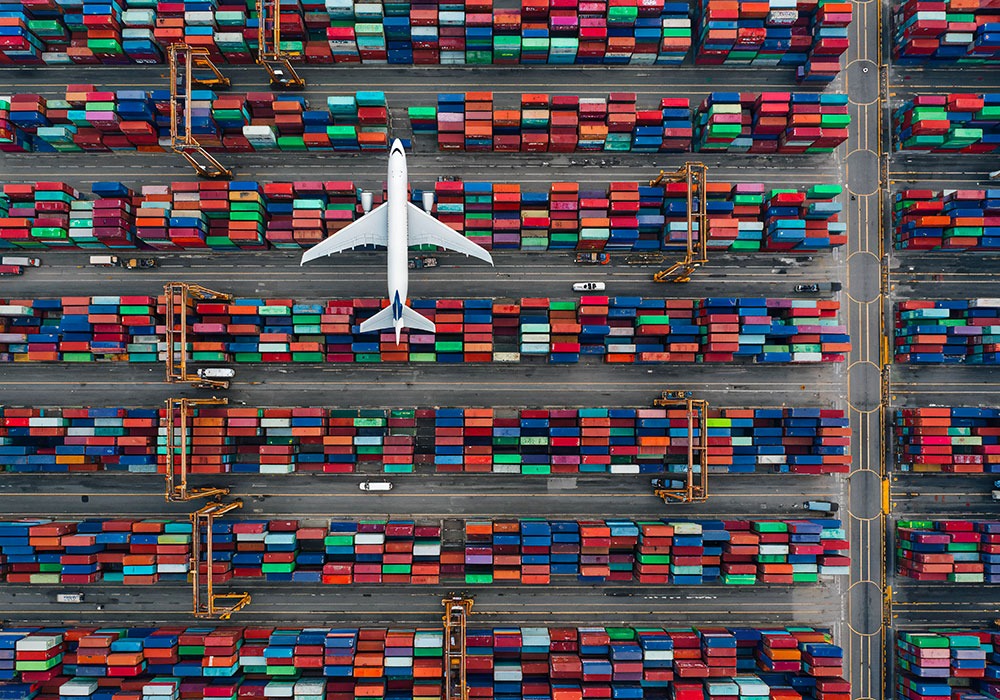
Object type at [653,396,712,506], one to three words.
container crane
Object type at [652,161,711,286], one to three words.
container crane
